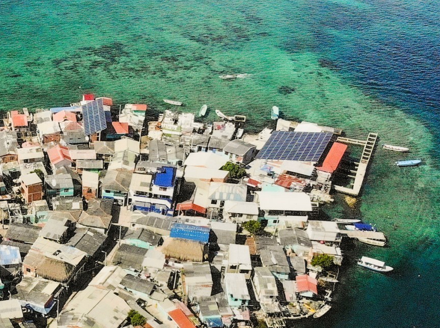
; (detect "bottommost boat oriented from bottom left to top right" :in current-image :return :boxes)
[313,303,335,318]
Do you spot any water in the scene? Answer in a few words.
Yes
